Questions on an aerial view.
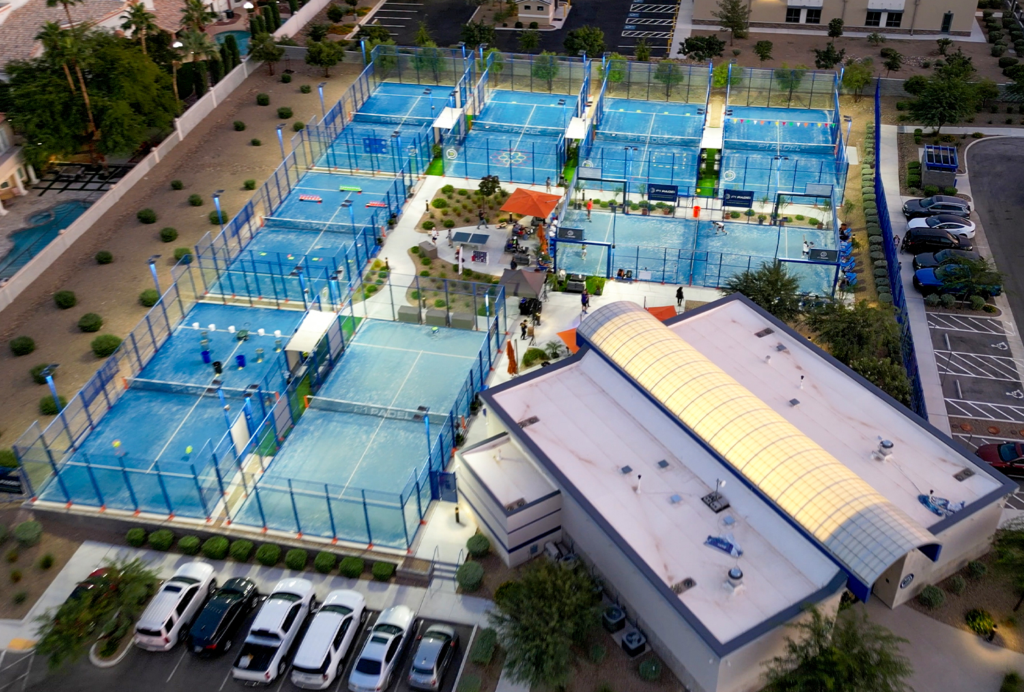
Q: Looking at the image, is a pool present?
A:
Yes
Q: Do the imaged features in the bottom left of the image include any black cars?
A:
Yes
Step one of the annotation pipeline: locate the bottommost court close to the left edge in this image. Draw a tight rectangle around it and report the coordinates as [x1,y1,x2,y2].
[16,253,338,526]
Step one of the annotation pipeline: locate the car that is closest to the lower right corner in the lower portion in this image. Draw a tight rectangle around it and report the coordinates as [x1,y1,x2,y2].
[963,436,1024,474]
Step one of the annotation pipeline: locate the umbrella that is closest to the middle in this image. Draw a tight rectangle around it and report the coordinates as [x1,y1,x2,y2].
[506,336,523,379]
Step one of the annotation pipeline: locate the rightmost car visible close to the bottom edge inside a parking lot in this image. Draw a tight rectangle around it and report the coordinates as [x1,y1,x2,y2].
[404,635,459,692]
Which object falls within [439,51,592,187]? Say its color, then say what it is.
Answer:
blue sports court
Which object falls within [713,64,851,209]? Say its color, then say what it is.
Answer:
blue sports court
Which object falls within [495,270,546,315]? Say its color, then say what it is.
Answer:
gray tent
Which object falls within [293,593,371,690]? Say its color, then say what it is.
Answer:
white car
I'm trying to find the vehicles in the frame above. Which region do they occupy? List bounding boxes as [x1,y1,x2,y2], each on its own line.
[904,224,976,255]
[190,578,268,664]
[236,582,320,686]
[963,436,1024,474]
[136,563,224,656]
[347,612,418,692]
[908,211,980,236]
[905,189,976,218]
[293,593,371,690]
[404,635,459,692]
[913,246,991,270]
